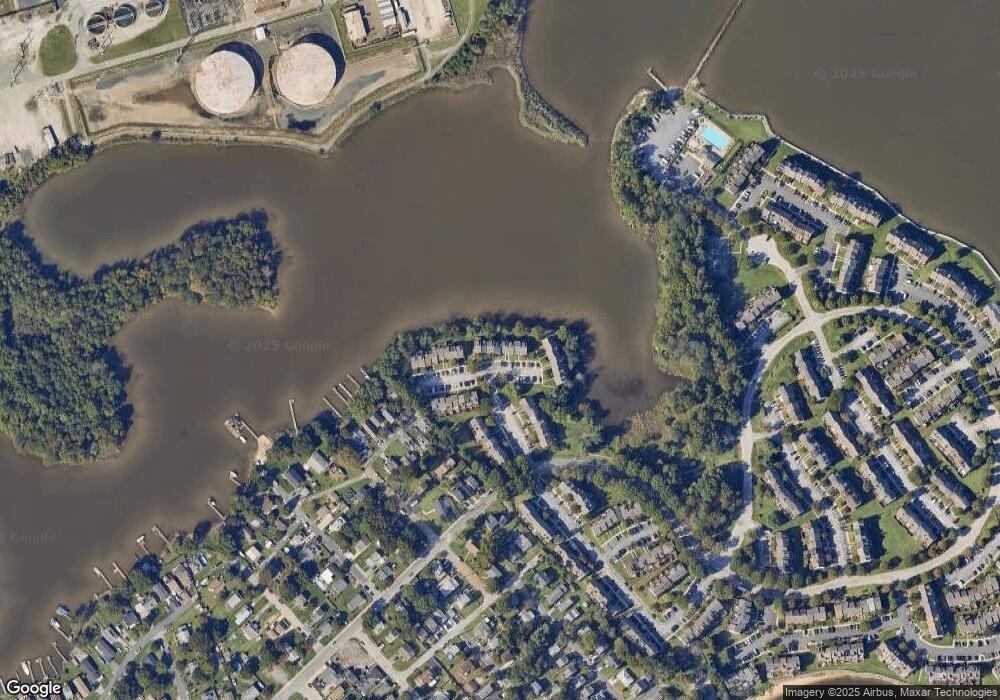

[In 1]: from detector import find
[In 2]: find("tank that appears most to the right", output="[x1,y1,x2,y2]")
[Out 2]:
[273,43,339,110]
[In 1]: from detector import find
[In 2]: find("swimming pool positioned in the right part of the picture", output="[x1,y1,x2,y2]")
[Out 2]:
[696,119,735,156]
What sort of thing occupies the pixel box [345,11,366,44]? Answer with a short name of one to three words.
building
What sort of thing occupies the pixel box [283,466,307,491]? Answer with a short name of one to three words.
house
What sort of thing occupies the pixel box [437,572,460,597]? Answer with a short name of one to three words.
house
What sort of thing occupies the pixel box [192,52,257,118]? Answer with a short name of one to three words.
storage tank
